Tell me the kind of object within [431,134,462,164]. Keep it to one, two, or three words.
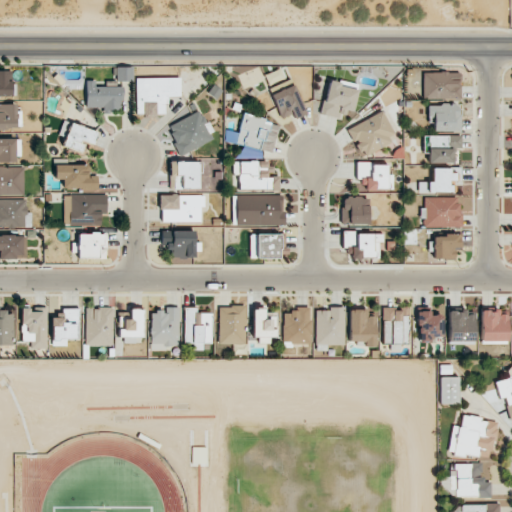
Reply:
house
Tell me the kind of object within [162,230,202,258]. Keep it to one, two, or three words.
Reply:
house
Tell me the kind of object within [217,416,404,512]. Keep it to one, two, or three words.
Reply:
soccer field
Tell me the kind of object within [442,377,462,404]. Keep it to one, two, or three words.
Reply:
shed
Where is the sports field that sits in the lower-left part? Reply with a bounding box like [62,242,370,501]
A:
[43,456,164,512]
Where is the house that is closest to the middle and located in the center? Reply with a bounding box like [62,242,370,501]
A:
[250,233,284,260]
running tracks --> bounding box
[22,437,184,512]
